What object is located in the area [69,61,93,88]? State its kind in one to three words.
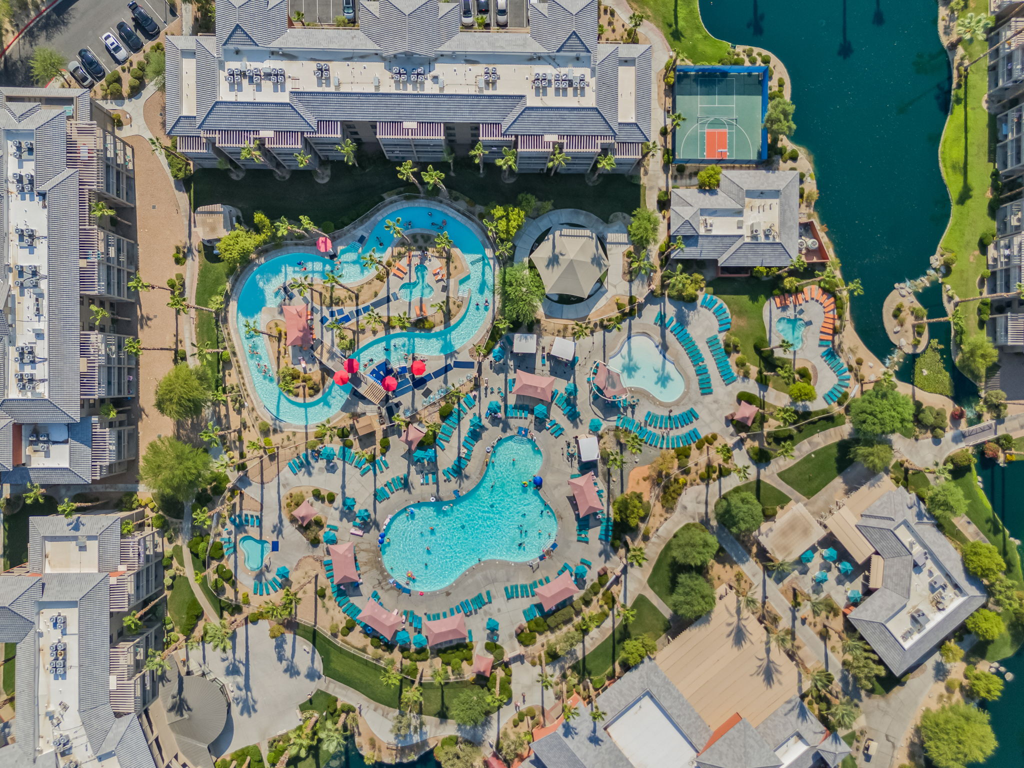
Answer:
car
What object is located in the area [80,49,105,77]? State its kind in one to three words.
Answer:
car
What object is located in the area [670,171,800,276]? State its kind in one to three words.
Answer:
building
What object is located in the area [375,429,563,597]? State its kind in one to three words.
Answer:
swimming pool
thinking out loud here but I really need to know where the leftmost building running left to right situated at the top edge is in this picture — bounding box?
[164,0,652,175]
